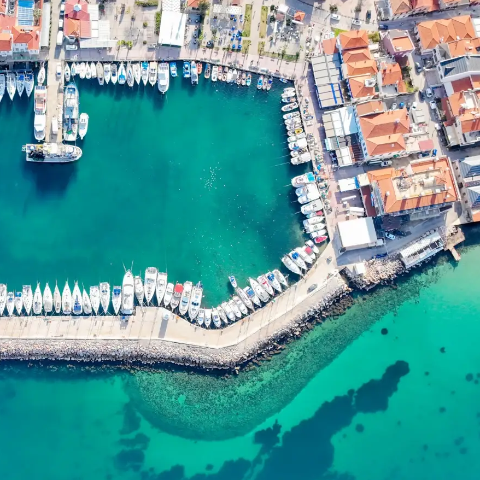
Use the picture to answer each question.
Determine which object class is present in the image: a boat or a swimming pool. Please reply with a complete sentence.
Visible in the photo is a boat.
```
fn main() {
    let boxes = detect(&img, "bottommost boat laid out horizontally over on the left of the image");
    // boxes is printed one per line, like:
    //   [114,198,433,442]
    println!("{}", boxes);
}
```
[26,143,82,162]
